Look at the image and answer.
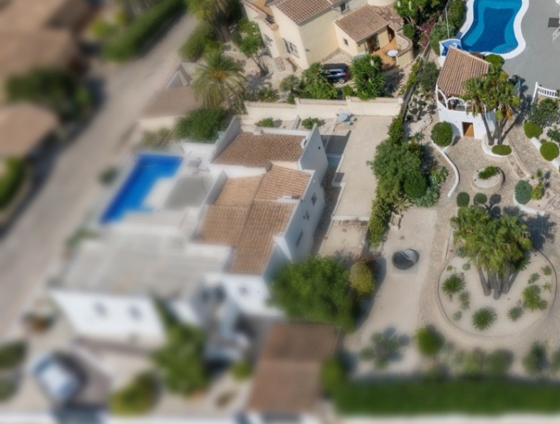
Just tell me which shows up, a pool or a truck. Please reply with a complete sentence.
Of the two, only a pool appears.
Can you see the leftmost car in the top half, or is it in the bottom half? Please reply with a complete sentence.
Seen from above, the leftmost car lies in the bottom half of the view.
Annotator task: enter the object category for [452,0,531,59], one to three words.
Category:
swimming pool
